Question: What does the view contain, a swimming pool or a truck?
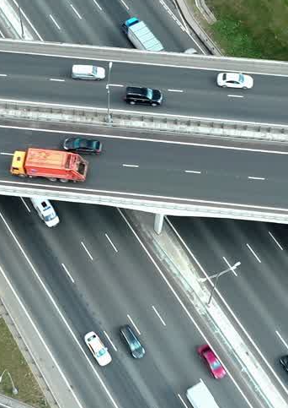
truck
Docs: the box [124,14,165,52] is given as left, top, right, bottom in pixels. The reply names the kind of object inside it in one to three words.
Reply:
truck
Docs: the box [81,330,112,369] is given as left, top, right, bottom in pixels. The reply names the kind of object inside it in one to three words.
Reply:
car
